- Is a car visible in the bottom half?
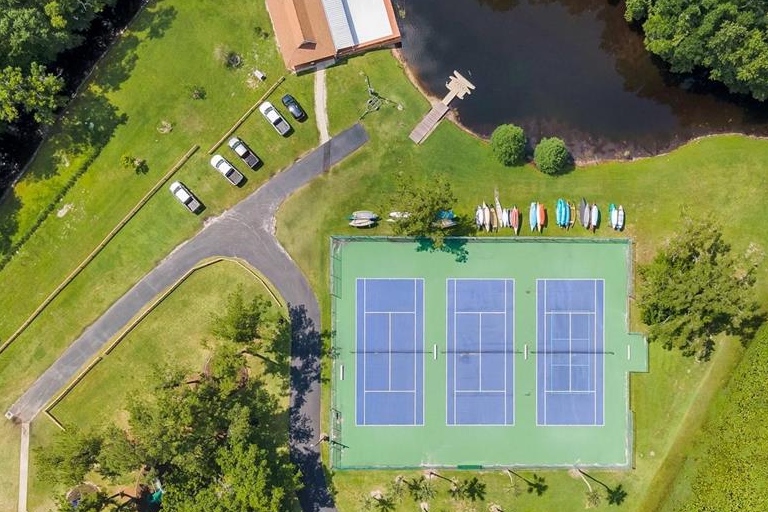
No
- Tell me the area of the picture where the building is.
top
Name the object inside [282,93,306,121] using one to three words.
car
